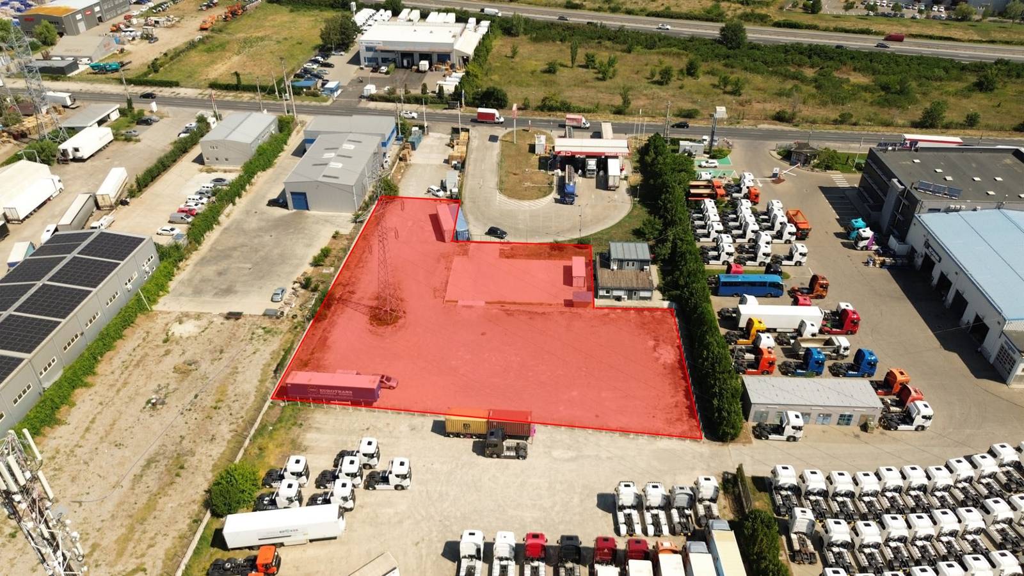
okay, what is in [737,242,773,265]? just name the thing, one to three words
truck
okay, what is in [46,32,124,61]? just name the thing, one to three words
shed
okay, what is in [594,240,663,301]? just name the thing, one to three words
house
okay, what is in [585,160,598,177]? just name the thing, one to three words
vehicle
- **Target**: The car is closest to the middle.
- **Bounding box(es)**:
[486,222,509,236]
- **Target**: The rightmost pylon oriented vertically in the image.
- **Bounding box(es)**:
[355,147,412,329]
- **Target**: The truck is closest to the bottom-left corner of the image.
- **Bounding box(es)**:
[225,543,285,576]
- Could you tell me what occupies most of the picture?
paved ground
